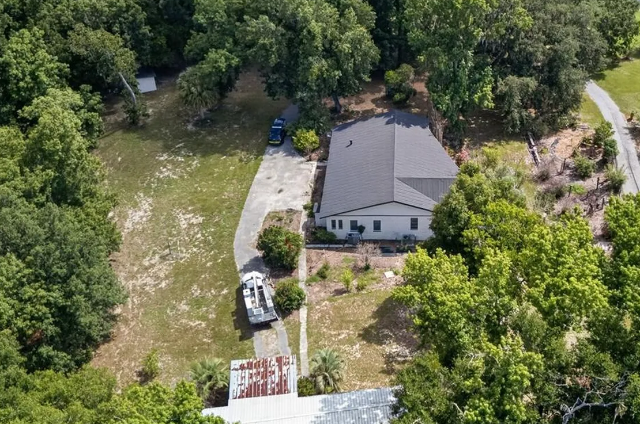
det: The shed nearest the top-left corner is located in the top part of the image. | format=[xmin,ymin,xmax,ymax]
[135,71,159,94]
